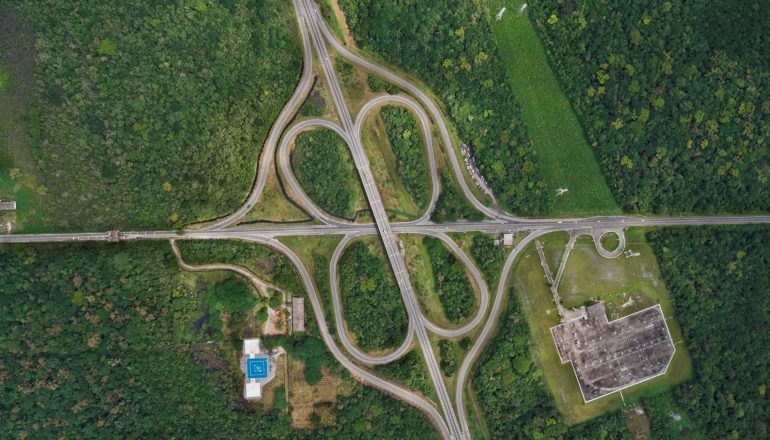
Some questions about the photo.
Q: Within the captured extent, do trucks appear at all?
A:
No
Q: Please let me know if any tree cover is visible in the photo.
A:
Yes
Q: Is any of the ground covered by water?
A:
No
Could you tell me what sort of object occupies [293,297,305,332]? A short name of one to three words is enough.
building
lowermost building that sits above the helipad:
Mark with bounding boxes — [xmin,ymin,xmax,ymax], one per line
[244,338,262,358]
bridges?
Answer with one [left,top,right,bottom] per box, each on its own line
[353,156,414,296]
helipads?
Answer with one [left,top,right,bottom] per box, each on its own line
[245,358,267,379]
